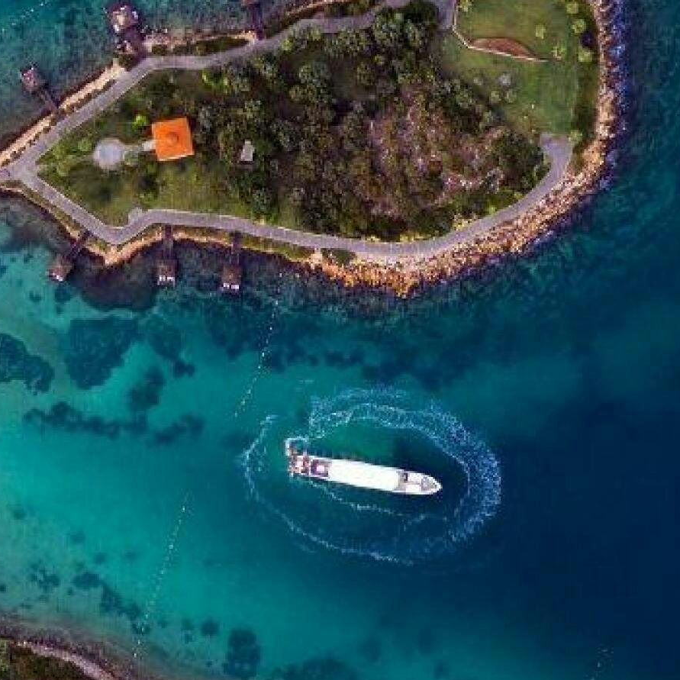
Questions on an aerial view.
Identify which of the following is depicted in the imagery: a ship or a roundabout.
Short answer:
ship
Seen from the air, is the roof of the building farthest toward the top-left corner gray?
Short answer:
No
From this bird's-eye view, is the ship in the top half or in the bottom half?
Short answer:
bottom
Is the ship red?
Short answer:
No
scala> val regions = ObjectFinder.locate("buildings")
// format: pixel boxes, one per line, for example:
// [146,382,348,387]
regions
[149,117,194,163]
[240,143,252,163]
